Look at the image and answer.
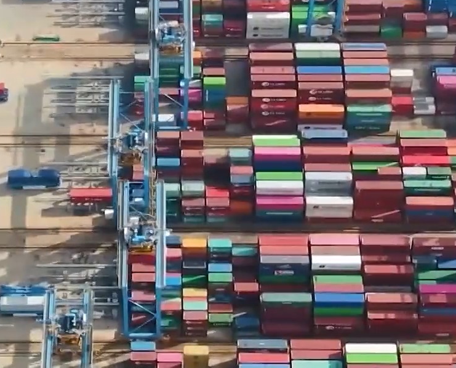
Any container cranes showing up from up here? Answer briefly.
Yes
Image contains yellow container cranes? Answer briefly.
No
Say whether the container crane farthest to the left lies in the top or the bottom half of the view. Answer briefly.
bottom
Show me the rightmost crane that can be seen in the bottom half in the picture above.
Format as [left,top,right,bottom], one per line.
[114,183,170,343]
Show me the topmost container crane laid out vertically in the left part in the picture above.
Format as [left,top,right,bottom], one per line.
[149,0,196,136]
